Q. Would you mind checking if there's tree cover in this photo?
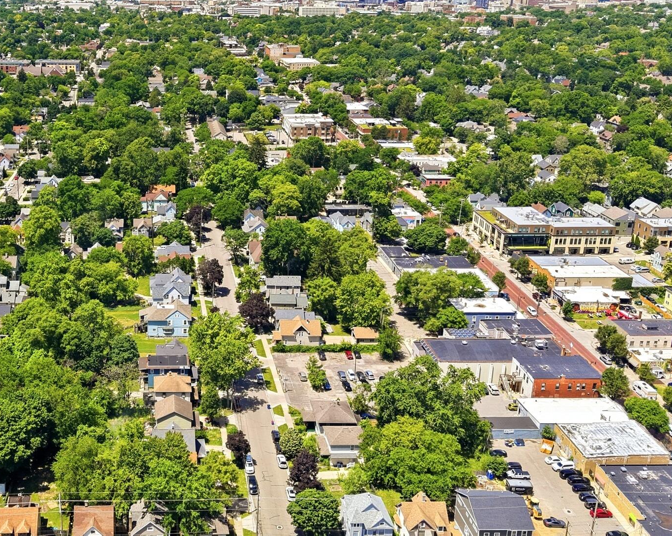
Yes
